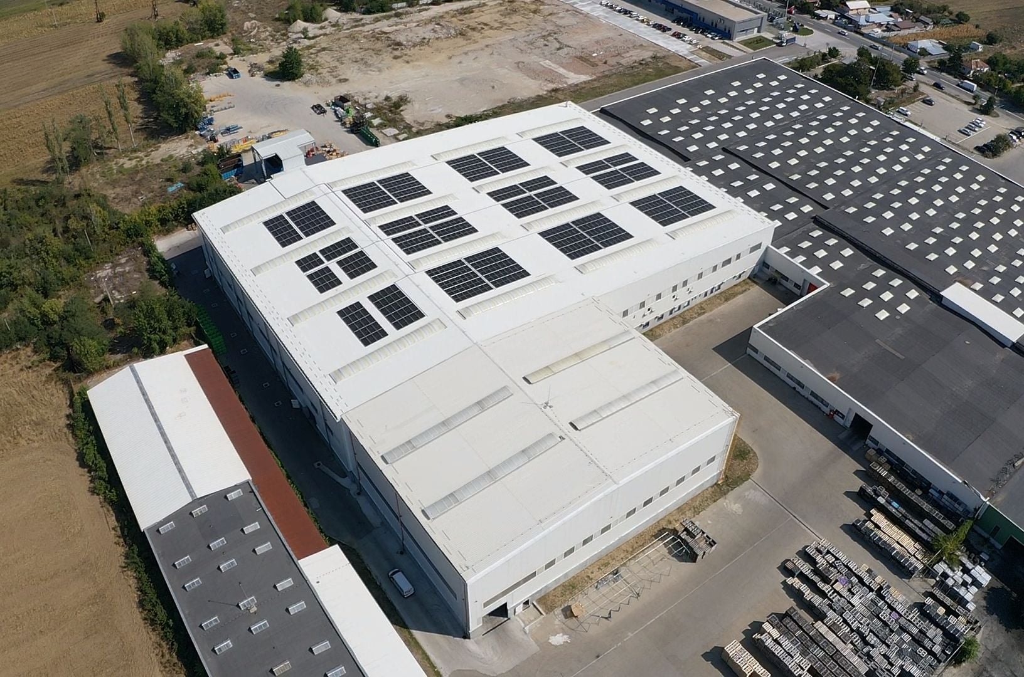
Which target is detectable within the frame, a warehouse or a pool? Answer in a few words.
warehouse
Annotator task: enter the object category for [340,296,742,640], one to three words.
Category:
warehouse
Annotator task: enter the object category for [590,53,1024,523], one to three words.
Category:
building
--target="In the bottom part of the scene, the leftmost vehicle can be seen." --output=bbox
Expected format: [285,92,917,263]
[385,567,412,598]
